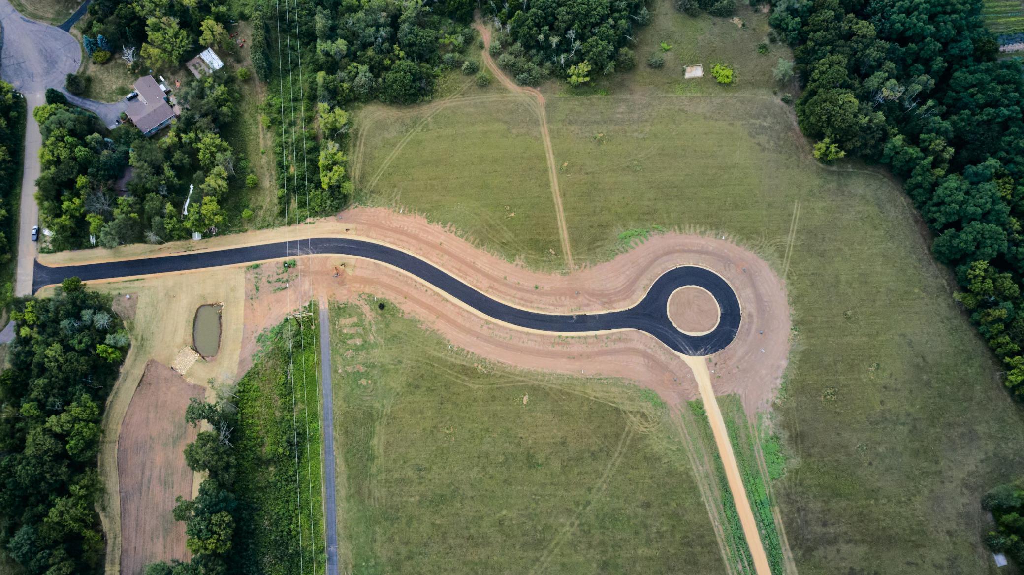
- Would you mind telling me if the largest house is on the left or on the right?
left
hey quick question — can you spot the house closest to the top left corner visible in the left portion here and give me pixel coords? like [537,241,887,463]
[128,76,175,135]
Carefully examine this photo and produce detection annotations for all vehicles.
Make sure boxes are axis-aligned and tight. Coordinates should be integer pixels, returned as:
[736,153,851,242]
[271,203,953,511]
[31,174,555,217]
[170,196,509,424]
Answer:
[31,227,40,240]
[125,91,139,100]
